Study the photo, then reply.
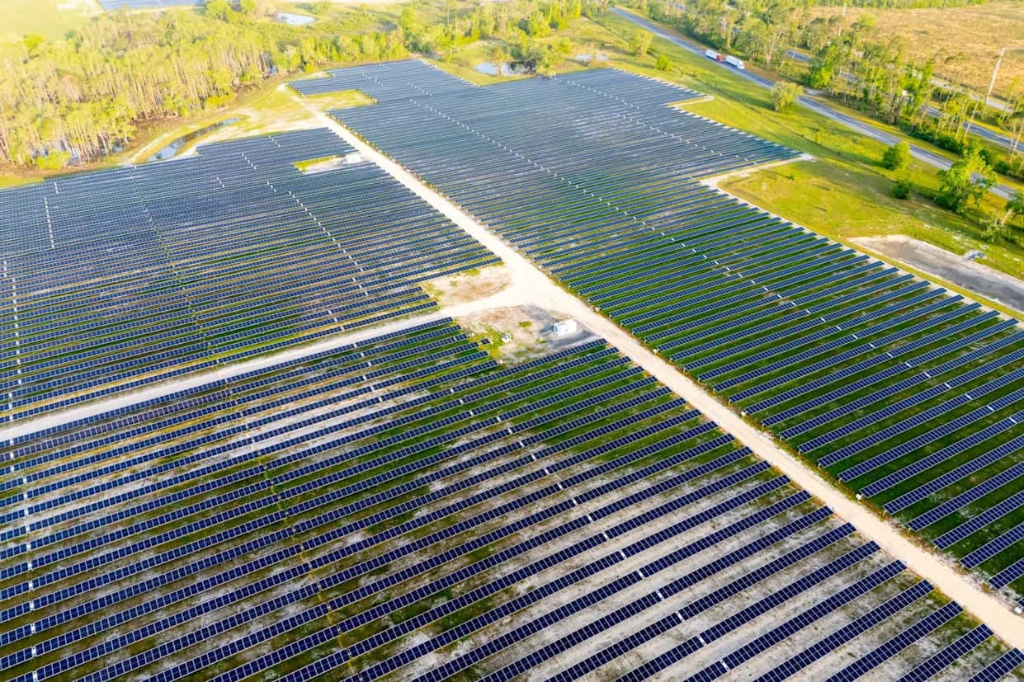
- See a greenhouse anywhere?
No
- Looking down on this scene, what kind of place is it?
solar farm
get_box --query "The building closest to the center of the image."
[554,316,579,335]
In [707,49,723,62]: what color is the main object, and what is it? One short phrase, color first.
white vehicle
